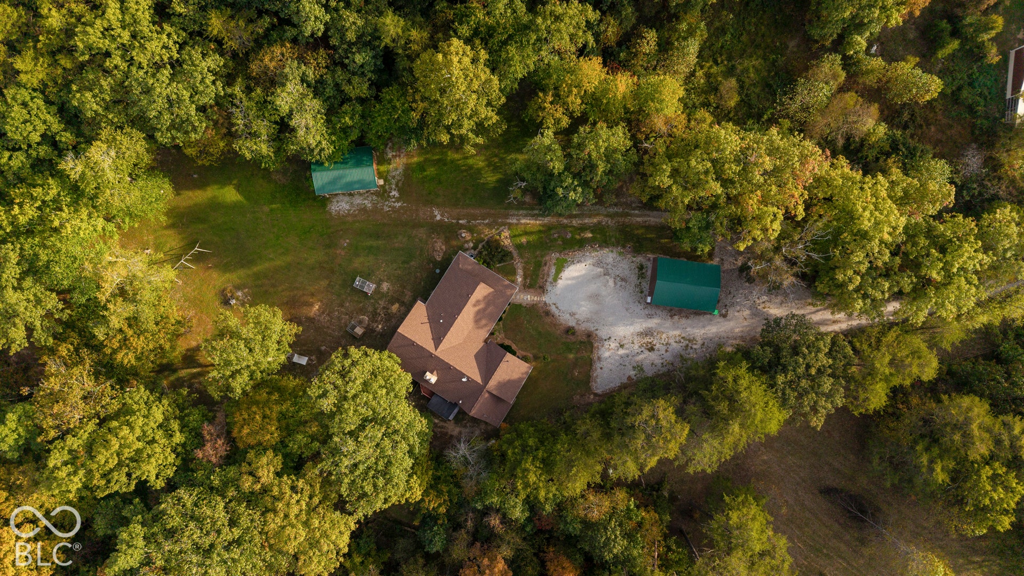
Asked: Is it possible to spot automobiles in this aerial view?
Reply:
No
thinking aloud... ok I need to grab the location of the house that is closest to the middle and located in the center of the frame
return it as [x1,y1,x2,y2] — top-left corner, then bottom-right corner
[381,251,533,428]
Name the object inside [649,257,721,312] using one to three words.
building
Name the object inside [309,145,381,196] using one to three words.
shed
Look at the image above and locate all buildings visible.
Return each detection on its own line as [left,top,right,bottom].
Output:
[1005,42,1024,126]
[381,251,533,428]
[649,257,721,312]
[309,145,381,196]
